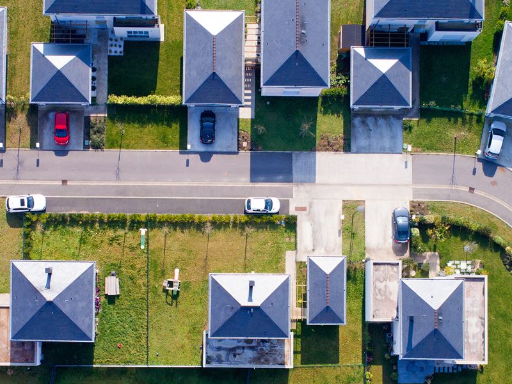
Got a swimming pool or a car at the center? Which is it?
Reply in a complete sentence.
Visible at the center is a car.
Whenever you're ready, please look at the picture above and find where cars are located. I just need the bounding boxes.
[52,110,71,146]
[198,108,217,146]
[393,208,410,244]
[245,196,279,214]
[6,193,47,212]
[483,120,507,160]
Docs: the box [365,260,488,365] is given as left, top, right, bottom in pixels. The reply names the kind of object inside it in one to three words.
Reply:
house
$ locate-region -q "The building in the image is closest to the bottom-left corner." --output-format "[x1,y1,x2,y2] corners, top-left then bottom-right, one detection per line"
[0,262,97,366]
